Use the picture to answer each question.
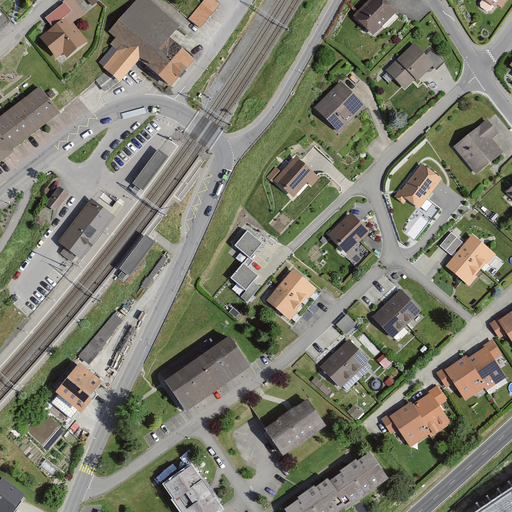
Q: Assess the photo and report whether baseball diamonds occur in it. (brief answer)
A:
No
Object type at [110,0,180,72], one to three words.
barn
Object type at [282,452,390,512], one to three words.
building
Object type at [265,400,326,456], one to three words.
building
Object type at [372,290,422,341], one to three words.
house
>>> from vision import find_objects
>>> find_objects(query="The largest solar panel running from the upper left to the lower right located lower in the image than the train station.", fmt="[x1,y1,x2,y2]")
[62,380,88,402]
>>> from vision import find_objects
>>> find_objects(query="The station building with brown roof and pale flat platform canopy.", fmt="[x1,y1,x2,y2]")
[58,198,114,262]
